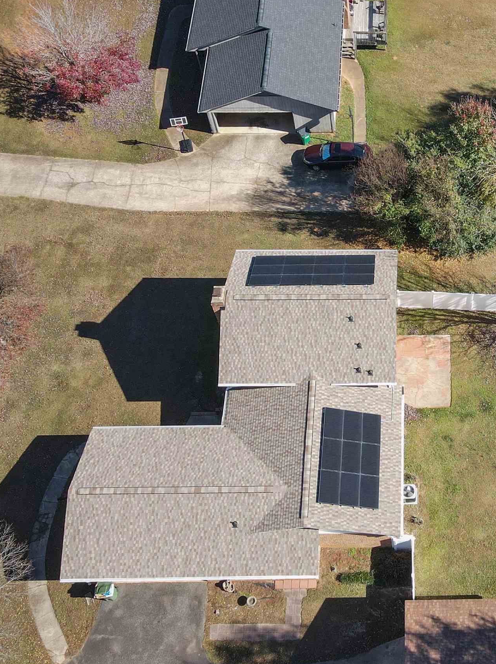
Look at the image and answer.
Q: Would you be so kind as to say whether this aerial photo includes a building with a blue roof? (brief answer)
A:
No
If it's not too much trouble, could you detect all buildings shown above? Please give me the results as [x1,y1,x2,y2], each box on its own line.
[405,598,496,664]
[60,248,407,589]
[185,0,352,131]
